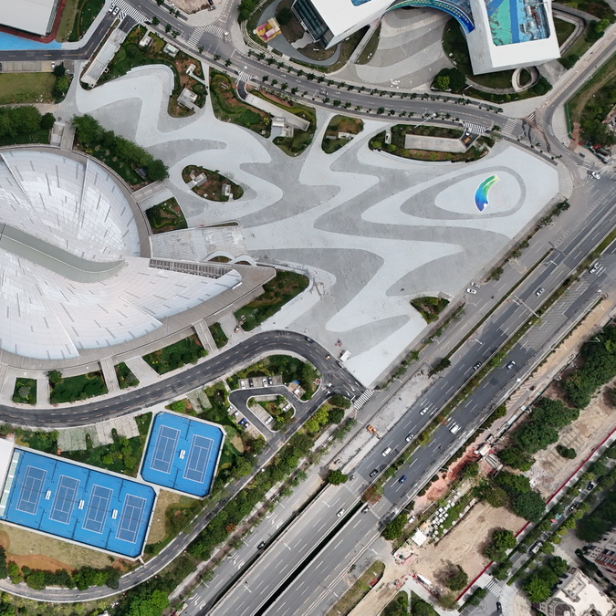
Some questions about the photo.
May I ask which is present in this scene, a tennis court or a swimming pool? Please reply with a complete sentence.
There is a tennis court in the scene.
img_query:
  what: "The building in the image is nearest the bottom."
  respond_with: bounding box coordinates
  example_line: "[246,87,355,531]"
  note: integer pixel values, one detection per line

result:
[516,557,616,616]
